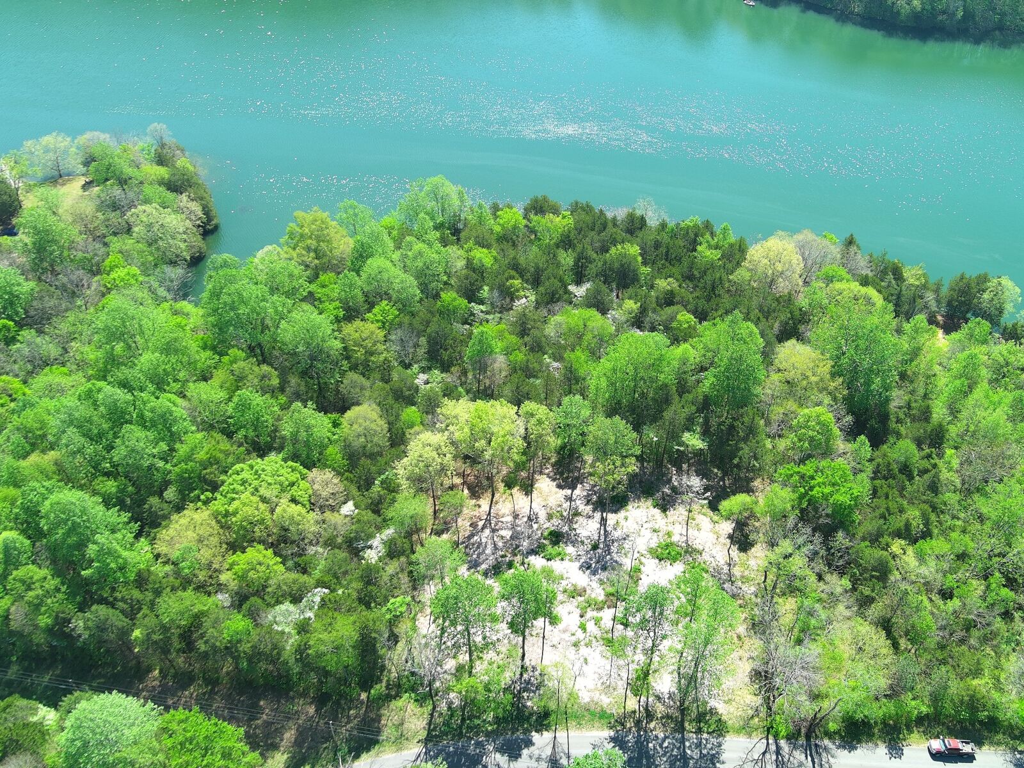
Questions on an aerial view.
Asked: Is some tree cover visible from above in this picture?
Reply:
Yes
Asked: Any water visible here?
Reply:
Yes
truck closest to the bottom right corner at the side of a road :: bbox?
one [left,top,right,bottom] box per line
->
[931,740,980,761]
